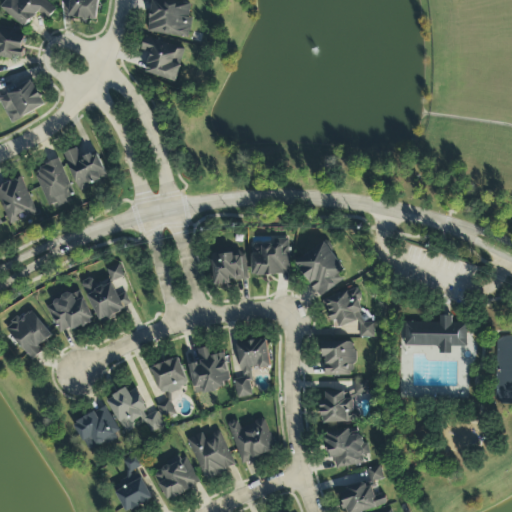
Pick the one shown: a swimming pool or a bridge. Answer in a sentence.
There is a swimming pool in the scene.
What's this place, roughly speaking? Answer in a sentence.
The area seen from above is a residential area.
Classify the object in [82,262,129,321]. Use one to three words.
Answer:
house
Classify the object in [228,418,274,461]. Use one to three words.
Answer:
house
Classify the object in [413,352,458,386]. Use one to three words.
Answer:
swimming pool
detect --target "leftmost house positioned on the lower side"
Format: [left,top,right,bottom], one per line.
[8,308,54,356]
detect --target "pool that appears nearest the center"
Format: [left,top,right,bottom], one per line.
[256,374,268,389]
